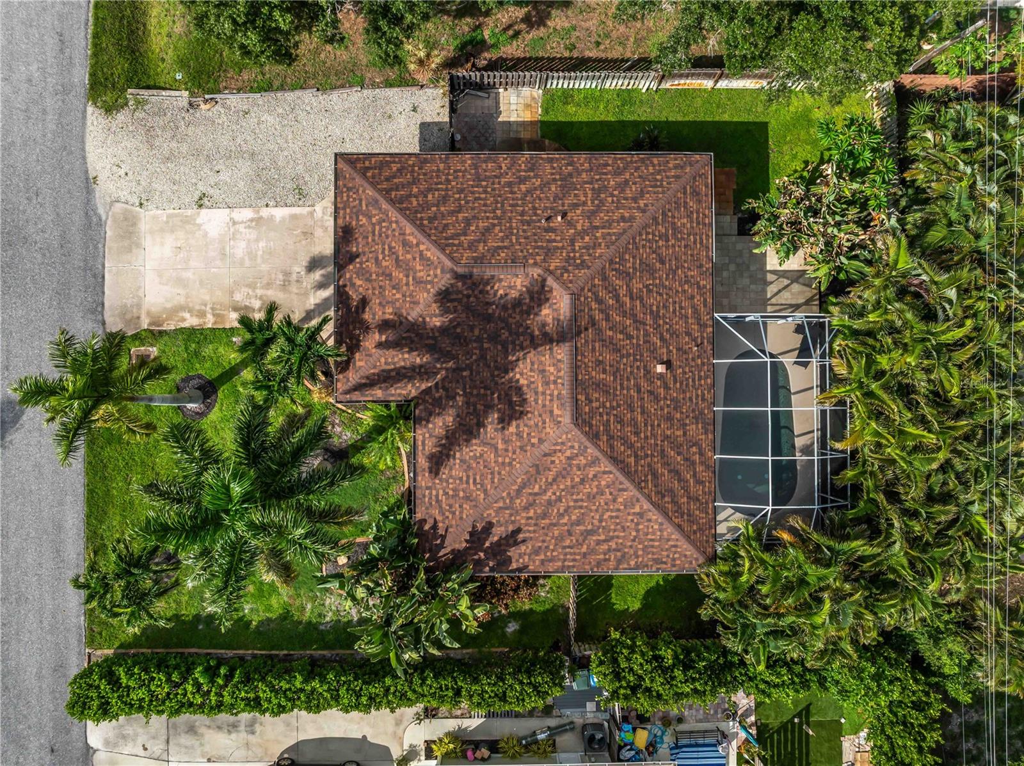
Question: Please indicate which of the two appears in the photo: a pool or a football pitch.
pool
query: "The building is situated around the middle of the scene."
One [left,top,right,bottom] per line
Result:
[332,150,717,575]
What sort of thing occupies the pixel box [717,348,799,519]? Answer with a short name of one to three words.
swimming pool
